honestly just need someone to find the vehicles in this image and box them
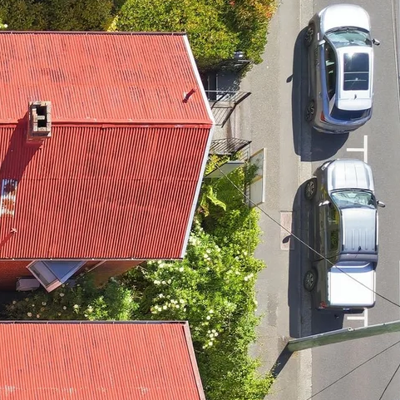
[305,159,382,312]
[306,5,381,135]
